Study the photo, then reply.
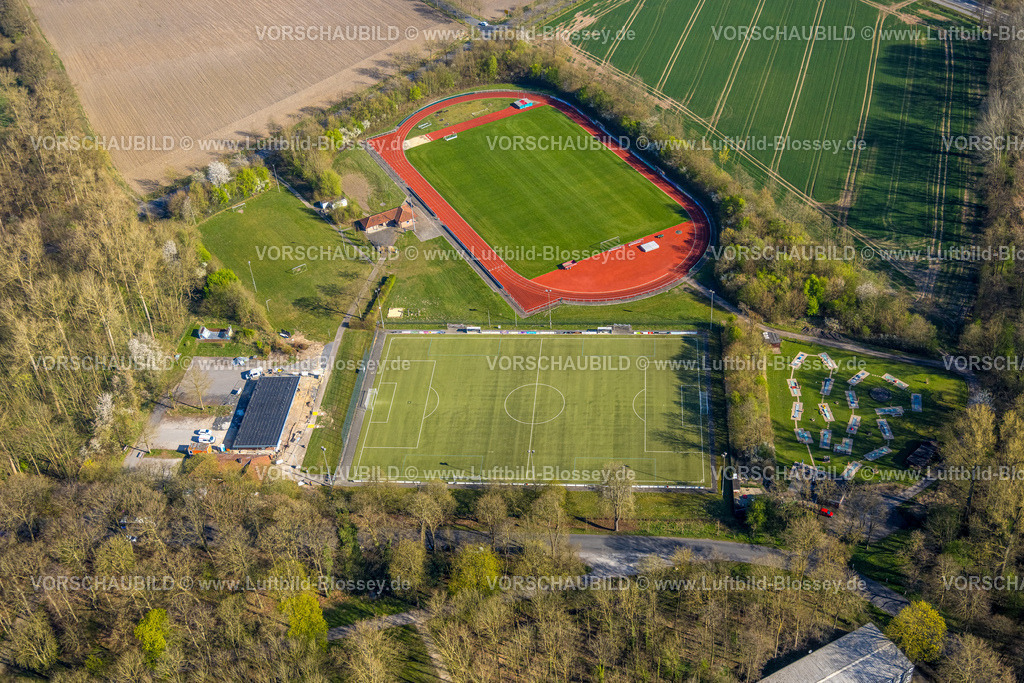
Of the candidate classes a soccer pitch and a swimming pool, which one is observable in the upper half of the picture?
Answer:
soccer pitch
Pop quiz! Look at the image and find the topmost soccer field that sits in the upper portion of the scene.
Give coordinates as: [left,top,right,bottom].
[404,96,696,292]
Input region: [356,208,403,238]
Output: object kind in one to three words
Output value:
building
